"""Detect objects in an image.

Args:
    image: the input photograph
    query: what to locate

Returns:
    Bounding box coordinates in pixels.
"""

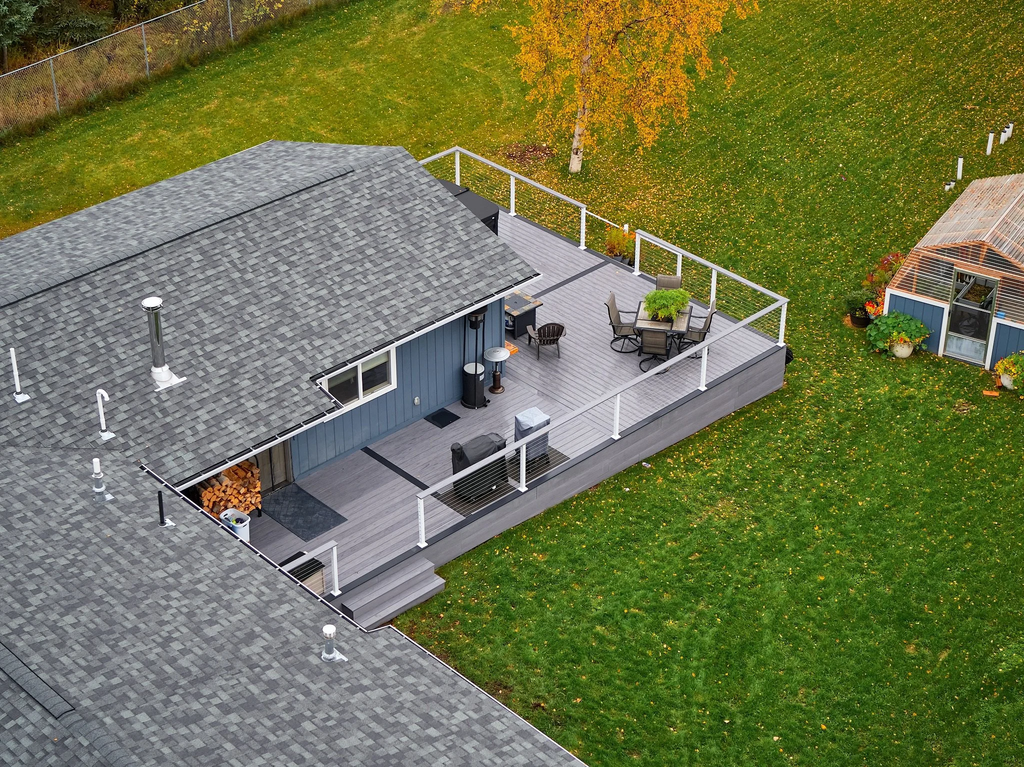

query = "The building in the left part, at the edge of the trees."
[0,145,588,767]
